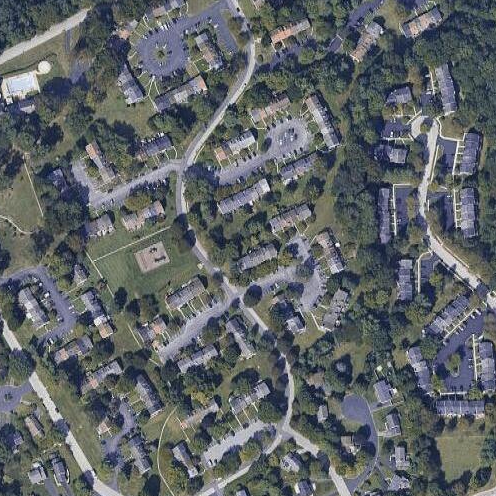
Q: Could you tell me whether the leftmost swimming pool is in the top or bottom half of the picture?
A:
top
